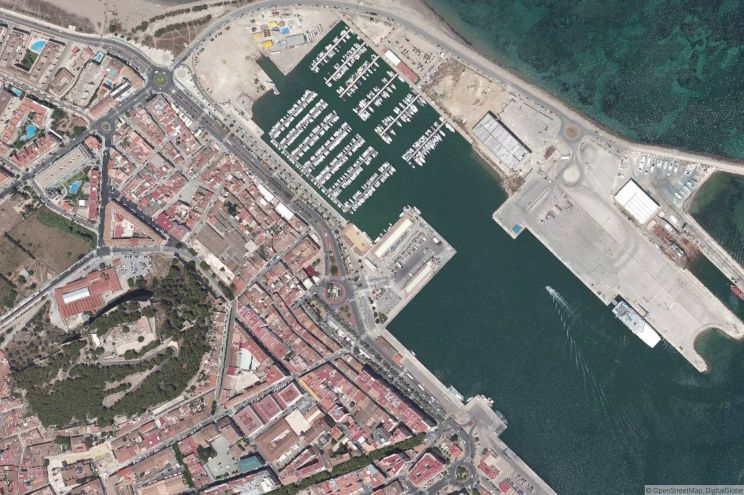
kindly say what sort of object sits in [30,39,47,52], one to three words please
swimming pool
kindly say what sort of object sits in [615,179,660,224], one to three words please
building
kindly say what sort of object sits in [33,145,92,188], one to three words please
building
